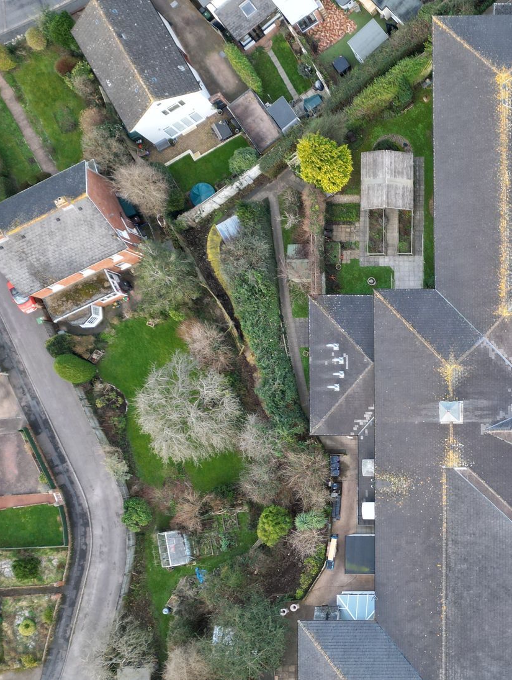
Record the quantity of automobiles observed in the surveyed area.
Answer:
1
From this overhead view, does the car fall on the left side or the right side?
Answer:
left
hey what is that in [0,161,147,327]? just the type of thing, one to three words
house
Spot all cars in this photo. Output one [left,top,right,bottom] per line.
[3,281,44,317]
